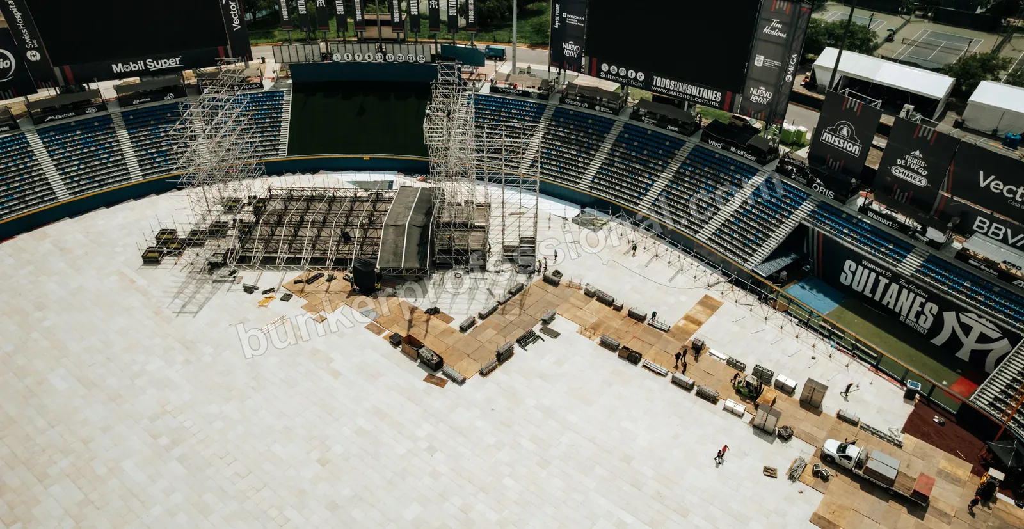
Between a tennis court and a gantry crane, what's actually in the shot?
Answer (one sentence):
It is a tennis court that can be seen here.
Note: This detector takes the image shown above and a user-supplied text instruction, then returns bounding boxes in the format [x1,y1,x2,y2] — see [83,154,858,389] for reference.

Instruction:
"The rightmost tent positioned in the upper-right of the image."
[965,80,1024,142]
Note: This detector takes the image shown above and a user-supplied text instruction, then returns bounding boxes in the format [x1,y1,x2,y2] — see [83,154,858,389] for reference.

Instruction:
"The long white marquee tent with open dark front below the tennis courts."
[808,44,963,119]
